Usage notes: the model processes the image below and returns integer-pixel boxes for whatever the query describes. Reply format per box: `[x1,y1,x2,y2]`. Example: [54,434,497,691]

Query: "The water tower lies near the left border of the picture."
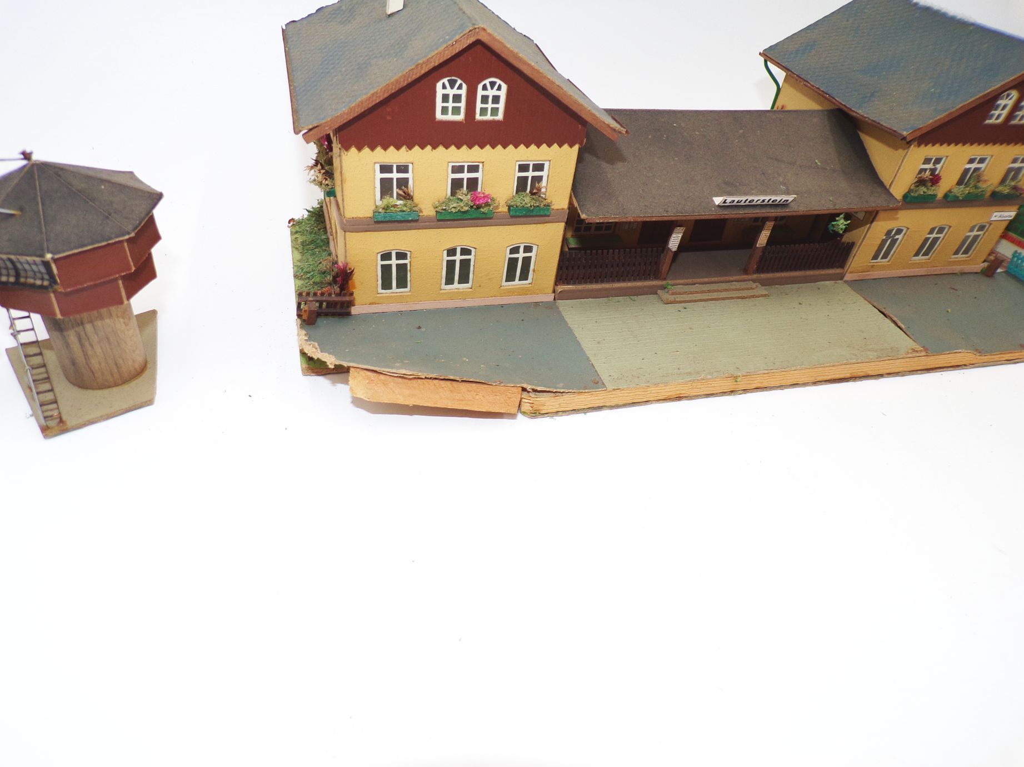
[0,144,164,442]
